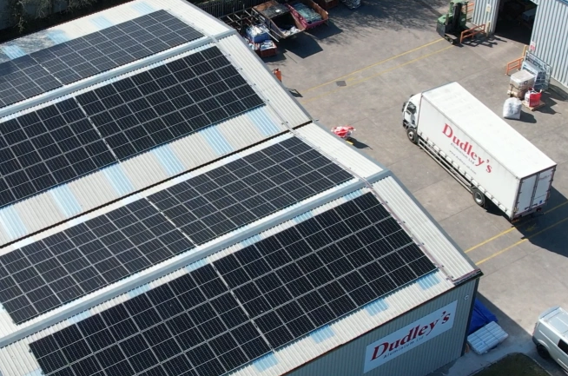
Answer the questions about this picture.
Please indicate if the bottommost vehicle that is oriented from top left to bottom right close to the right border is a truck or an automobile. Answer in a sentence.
It looks like the bottommost vehicle that is oriented from top left to bottom right close to the right border is a truck.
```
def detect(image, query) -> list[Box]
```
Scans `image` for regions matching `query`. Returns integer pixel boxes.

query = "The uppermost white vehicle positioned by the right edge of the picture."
[396,81,558,221]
